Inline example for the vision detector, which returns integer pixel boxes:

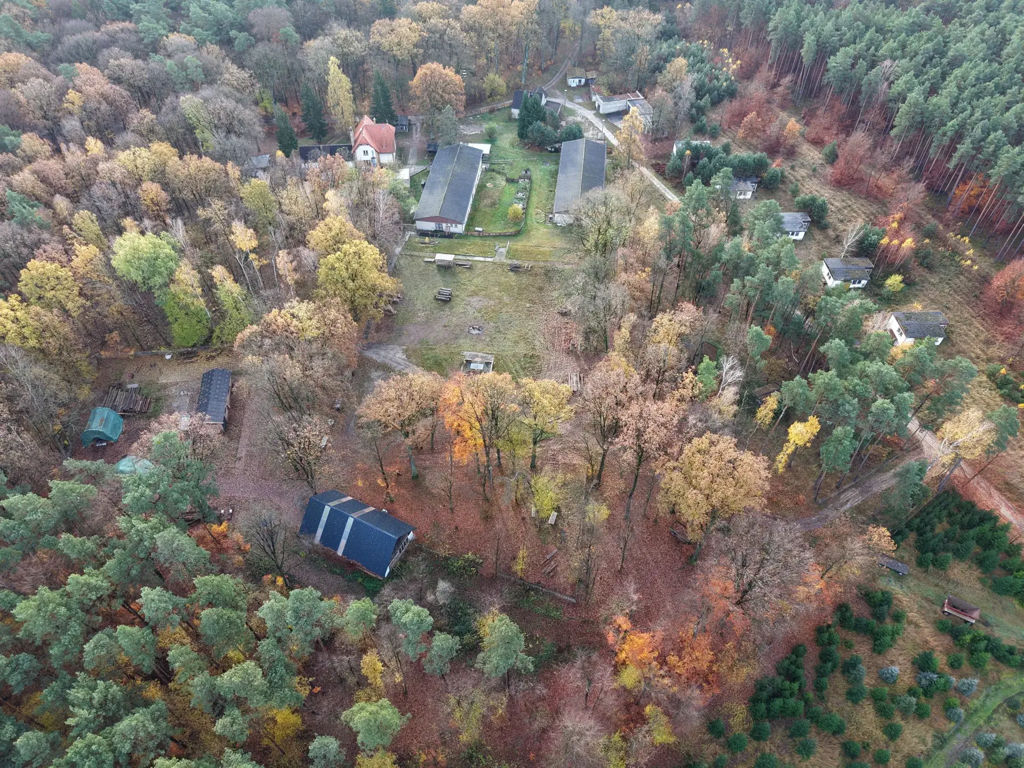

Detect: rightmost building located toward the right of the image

[892,311,947,345]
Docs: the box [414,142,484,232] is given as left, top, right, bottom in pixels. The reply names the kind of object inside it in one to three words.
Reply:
barn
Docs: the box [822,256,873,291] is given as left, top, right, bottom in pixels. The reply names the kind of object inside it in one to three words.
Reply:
building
